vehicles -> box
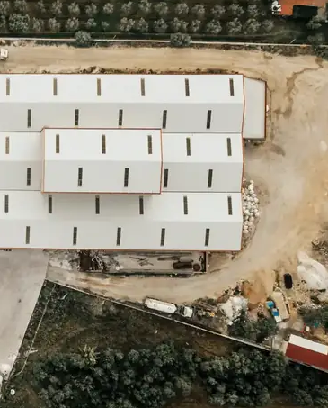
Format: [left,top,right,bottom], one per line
[146,298,195,319]
[0,48,8,58]
[271,290,294,320]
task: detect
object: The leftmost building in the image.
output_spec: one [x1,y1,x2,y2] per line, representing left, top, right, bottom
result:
[0,73,246,252]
